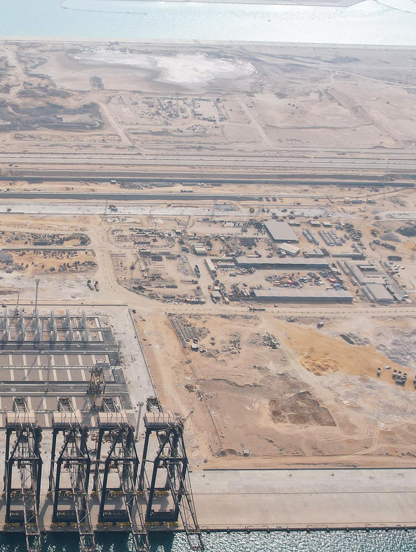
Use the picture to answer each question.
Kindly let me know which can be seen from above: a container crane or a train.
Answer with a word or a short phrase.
container crane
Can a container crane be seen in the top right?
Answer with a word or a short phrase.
No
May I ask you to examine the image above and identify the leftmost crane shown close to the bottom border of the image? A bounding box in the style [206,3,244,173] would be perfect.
[2,395,45,552]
